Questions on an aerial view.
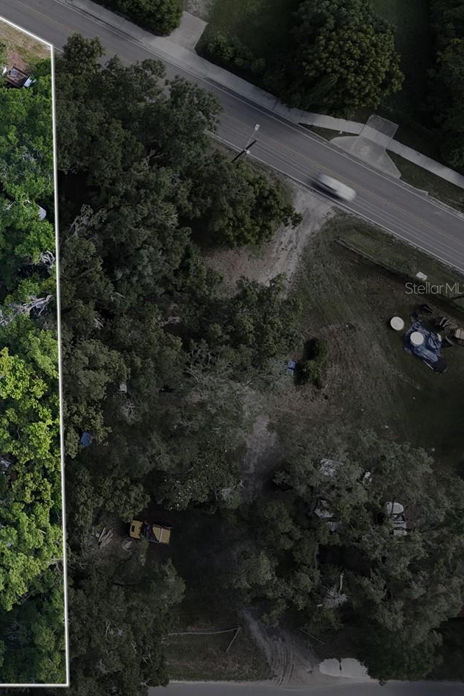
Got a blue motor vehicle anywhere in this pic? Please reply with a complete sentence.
No, the photo shows no blue motor vehicle.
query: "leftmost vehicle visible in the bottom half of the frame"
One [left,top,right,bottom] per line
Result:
[131,518,172,544]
